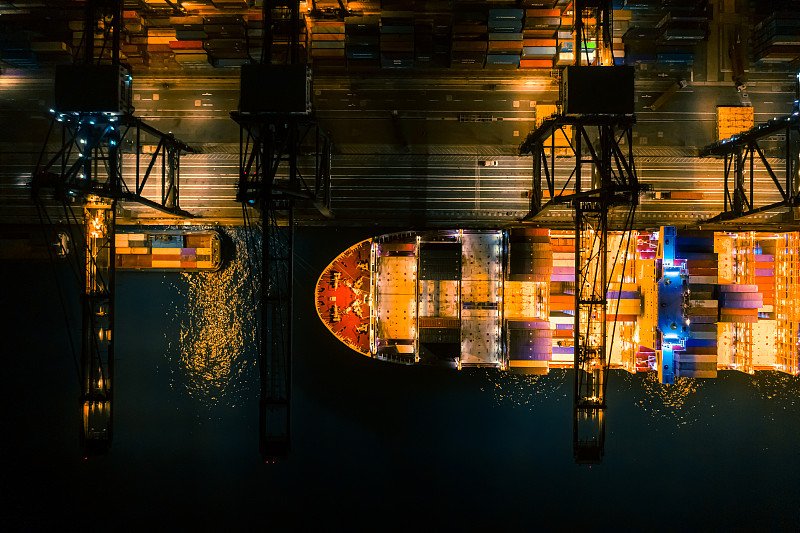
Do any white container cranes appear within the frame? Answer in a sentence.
No, I find no white container crane anywhere in the image.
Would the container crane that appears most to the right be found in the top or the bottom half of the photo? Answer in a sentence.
Seen from above, the container crane that appears most to the right lies in the top half of the view.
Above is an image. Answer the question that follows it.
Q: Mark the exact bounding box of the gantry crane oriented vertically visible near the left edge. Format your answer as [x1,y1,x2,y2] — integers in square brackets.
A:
[24,0,200,461]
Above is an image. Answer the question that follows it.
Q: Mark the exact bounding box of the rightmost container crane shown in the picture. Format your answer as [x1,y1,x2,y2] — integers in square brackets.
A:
[702,76,800,220]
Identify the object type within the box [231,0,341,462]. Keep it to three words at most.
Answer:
container crane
